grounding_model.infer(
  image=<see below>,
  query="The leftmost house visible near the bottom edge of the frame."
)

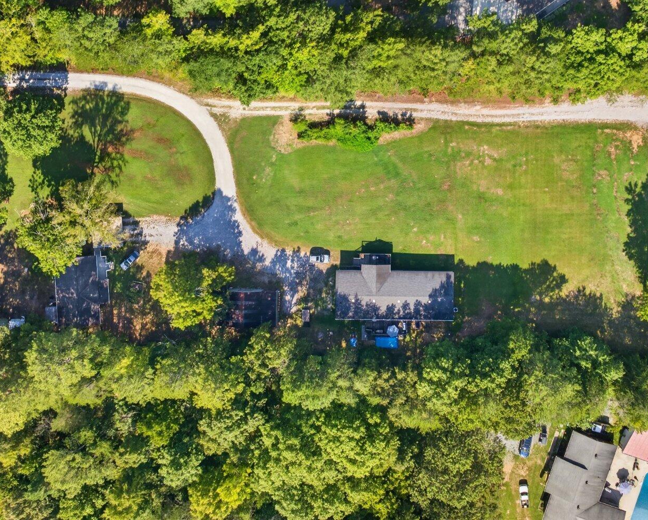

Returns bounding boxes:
[531,429,626,520]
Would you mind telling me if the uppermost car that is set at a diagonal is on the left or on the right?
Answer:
left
